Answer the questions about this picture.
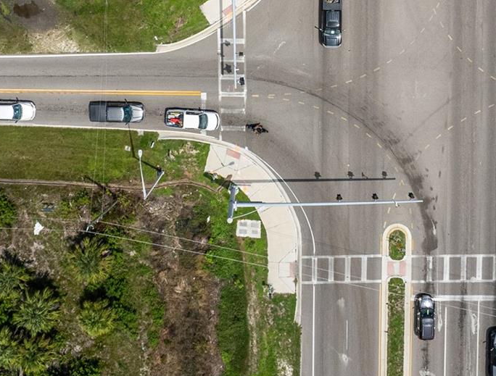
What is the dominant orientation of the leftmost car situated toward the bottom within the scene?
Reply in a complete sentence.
In this picture, the leftmost car situated toward the bottom lies from top to bottom.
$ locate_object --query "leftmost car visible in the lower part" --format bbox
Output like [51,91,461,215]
[413,291,438,341]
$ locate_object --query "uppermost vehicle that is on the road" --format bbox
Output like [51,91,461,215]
[318,0,344,48]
